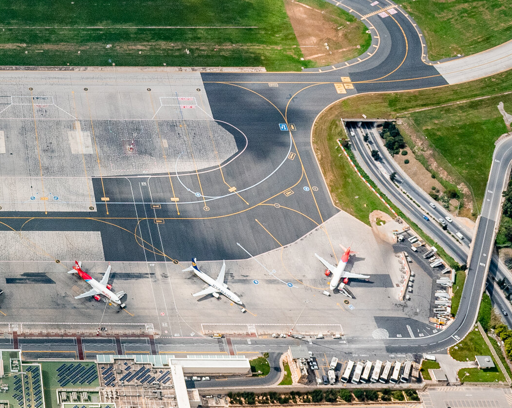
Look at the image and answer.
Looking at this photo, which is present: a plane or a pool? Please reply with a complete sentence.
There is a plane in the scene.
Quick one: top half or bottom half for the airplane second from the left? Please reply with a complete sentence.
The bottom half of the photo is where the airplane second from the left is.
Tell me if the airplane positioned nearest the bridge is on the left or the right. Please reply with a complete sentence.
The airplane positioned nearest the bridge appears in the right half of the scene.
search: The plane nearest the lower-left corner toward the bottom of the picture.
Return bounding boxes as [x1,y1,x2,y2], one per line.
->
[70,260,123,305]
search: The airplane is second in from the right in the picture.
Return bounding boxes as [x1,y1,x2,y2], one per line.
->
[187,259,244,305]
